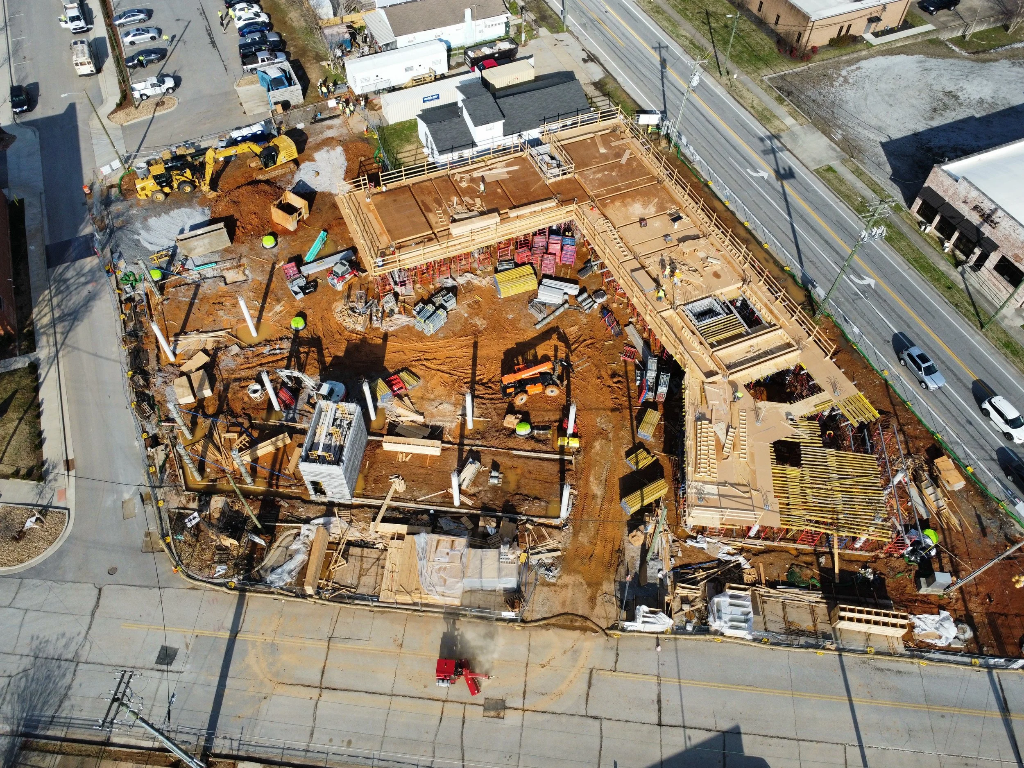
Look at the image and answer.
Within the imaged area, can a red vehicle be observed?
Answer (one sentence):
Yes, I can see a red vehicle in this picture.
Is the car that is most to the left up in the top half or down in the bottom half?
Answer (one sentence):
Seen from above, the car that is most to the left lies in the top half of the view.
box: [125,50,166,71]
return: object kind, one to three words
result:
car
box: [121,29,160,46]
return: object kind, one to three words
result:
car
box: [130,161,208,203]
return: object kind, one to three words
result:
work vehicle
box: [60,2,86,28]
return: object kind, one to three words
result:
truck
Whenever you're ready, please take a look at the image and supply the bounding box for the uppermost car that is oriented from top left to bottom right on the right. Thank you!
[894,344,949,390]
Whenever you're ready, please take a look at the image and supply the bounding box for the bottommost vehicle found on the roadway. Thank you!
[428,655,494,697]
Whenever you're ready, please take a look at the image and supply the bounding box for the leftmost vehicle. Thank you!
[8,83,31,111]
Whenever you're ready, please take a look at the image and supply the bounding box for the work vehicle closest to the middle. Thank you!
[495,349,591,405]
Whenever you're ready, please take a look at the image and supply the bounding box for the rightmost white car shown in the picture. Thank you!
[975,398,1024,450]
